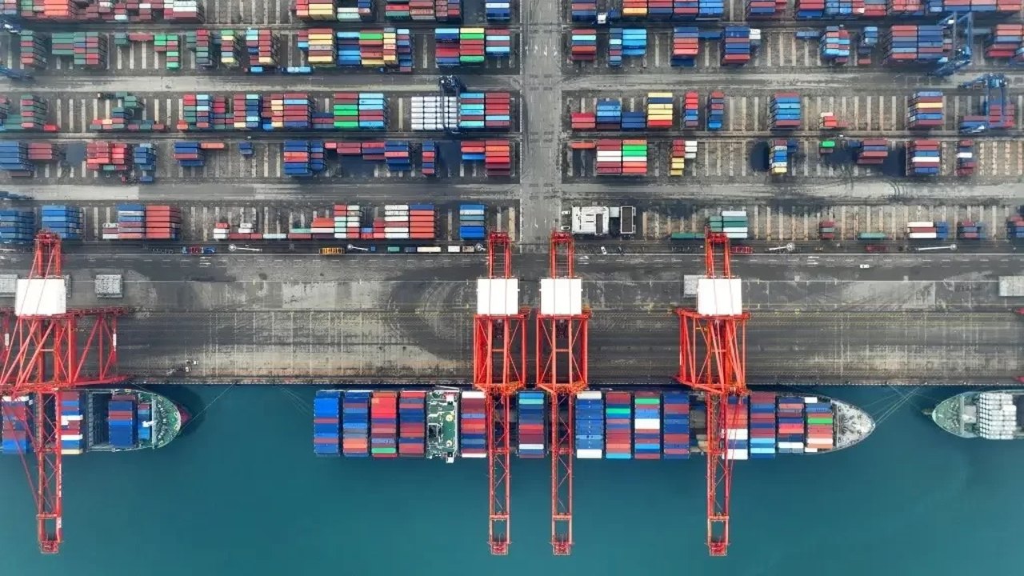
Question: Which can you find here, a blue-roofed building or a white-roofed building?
white-roofed building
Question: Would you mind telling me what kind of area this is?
port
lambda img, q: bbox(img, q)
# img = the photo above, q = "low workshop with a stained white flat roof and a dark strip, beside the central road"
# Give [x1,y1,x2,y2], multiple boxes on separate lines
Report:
[571,207,609,235]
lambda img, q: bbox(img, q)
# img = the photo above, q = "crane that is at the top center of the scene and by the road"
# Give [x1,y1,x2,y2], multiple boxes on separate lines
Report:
[439,76,466,139]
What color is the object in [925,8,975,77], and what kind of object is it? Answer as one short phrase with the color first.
blue crane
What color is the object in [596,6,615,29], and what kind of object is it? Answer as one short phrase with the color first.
white vehicle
